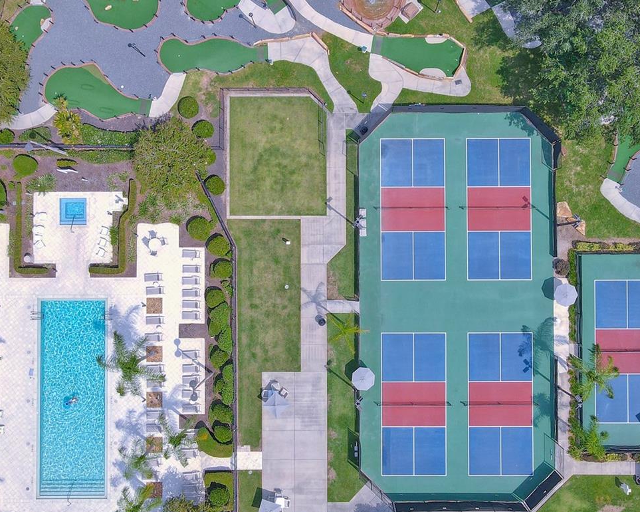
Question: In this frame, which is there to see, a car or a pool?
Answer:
pool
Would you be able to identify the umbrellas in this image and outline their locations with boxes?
[553,282,577,306]
[262,390,290,419]
[352,367,375,389]
[257,496,284,512]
